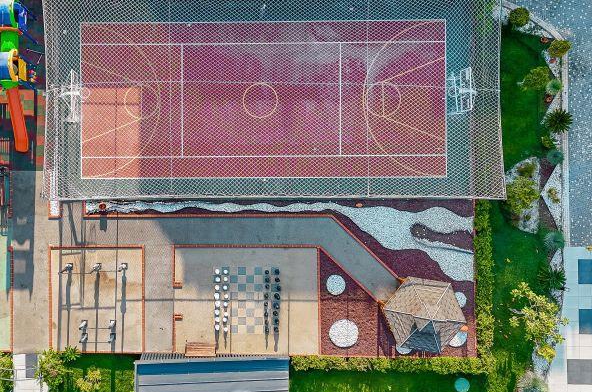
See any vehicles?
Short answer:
No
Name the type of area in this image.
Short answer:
sports ground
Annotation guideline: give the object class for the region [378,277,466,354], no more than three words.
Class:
gazebo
